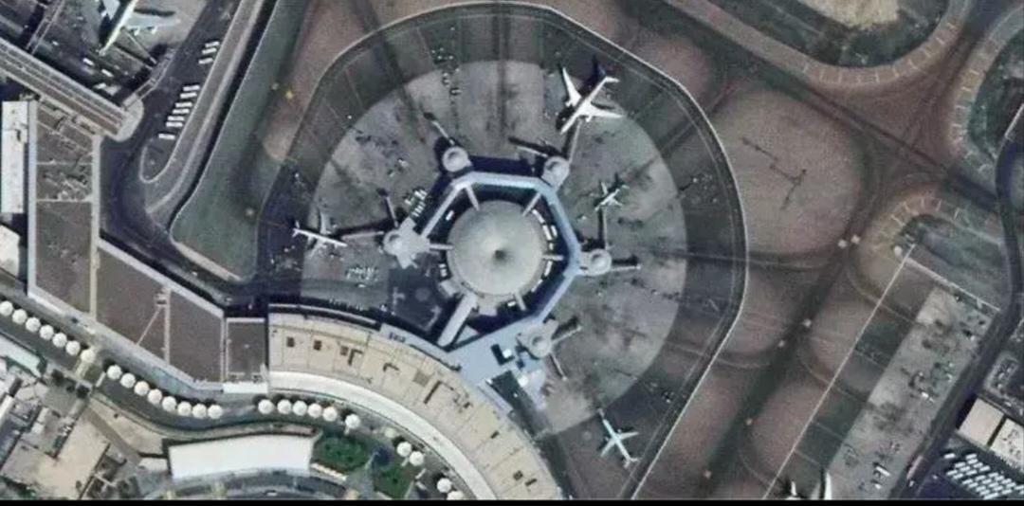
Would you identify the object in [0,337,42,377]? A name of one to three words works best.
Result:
building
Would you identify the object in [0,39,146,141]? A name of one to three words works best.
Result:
building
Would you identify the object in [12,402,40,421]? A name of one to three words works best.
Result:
house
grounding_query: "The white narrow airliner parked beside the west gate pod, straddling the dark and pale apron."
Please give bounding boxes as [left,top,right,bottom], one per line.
[289,212,348,259]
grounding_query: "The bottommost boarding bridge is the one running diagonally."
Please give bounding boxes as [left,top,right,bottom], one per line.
[547,352,569,379]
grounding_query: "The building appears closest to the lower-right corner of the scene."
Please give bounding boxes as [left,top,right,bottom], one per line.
[989,419,1024,471]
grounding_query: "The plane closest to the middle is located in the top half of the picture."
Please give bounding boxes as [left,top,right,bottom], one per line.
[595,179,628,210]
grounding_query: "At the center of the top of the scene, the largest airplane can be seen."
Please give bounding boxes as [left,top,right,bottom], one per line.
[561,68,625,134]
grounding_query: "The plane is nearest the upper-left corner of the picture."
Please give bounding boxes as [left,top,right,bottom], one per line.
[101,0,179,54]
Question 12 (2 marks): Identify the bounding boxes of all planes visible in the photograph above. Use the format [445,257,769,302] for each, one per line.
[101,0,179,54]
[561,68,625,134]
[595,179,628,210]
[600,419,637,464]
[289,212,348,259]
